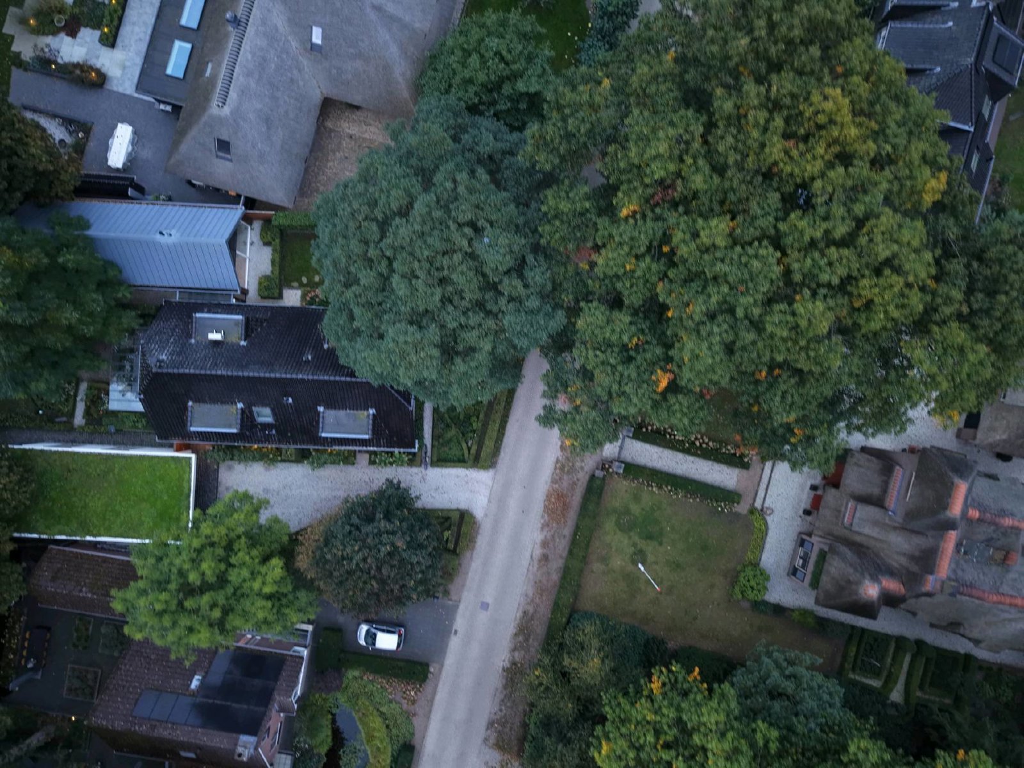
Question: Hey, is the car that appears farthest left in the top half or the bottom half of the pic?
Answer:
bottom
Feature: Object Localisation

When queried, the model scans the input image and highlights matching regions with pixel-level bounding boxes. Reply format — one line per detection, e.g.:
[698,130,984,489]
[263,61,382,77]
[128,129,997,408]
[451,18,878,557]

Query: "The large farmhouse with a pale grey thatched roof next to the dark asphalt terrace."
[136,0,454,207]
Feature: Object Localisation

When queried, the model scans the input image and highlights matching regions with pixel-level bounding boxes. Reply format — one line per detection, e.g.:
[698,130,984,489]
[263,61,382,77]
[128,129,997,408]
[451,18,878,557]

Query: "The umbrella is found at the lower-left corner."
[10,669,44,689]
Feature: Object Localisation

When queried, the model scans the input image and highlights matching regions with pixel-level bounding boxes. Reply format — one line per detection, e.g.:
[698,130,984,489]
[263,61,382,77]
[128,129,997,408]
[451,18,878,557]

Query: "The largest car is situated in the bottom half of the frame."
[355,624,404,655]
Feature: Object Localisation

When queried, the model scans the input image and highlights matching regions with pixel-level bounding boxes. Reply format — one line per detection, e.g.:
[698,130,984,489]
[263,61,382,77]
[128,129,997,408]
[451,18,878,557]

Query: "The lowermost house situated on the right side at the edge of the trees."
[804,440,1024,659]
